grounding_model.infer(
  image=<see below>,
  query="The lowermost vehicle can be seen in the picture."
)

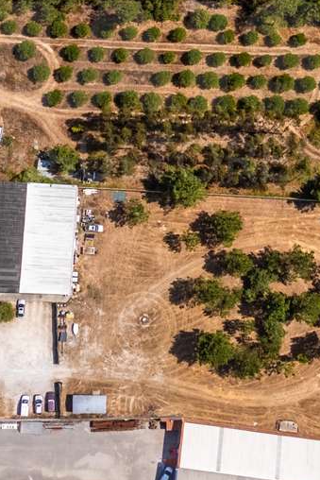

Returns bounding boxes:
[158,465,171,480]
